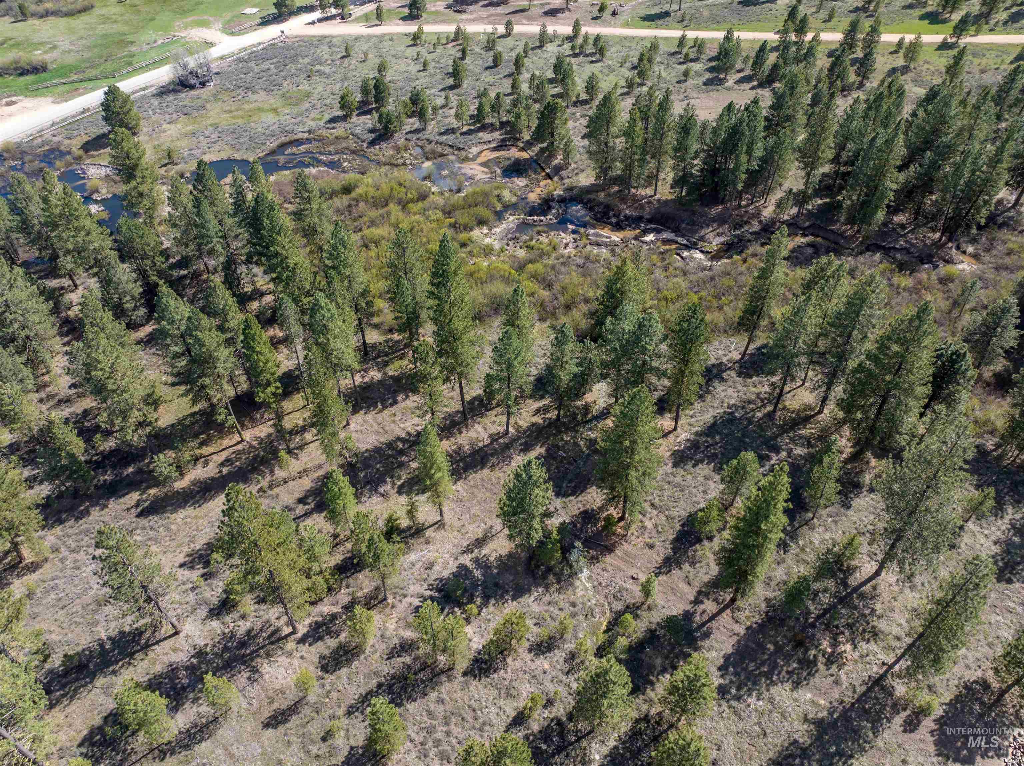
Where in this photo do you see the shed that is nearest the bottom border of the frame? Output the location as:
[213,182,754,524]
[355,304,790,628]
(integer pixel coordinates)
[163,63,230,88]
